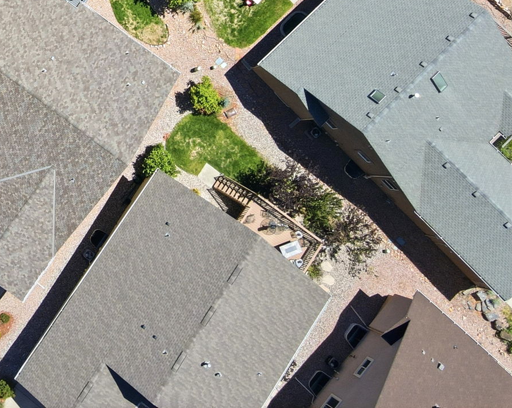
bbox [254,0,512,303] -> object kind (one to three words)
house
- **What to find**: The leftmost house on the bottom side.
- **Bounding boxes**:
[14,168,333,408]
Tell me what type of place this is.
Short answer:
residential area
